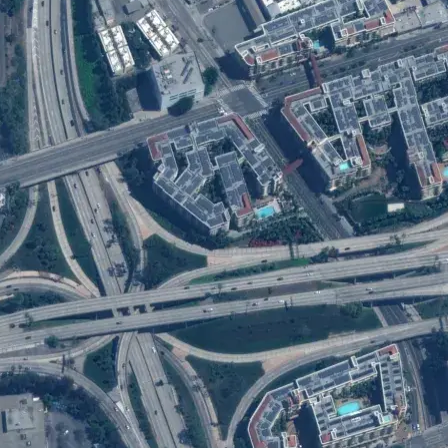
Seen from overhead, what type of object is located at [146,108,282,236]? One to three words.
building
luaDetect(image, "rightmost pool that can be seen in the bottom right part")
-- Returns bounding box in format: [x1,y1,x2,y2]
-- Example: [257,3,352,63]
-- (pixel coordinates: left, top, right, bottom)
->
[382,411,395,430]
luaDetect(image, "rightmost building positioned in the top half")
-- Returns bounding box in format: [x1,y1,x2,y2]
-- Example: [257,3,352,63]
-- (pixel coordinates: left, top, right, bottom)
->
[428,0,448,26]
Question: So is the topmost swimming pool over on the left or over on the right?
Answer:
right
